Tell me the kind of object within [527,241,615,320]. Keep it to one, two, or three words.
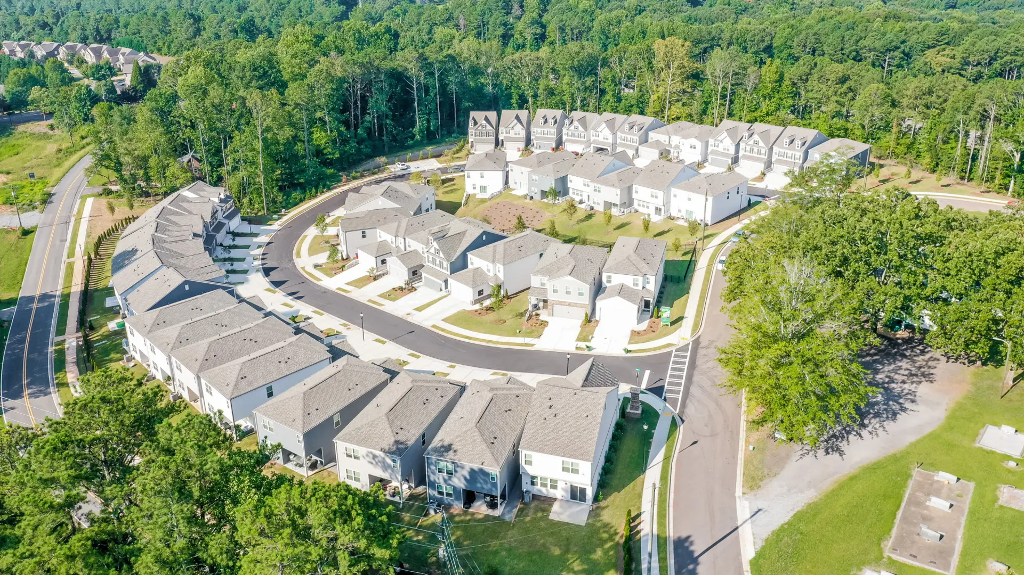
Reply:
house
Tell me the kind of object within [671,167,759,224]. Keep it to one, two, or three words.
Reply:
house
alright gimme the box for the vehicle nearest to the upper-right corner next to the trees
[730,228,745,240]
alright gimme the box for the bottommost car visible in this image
[716,252,729,265]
